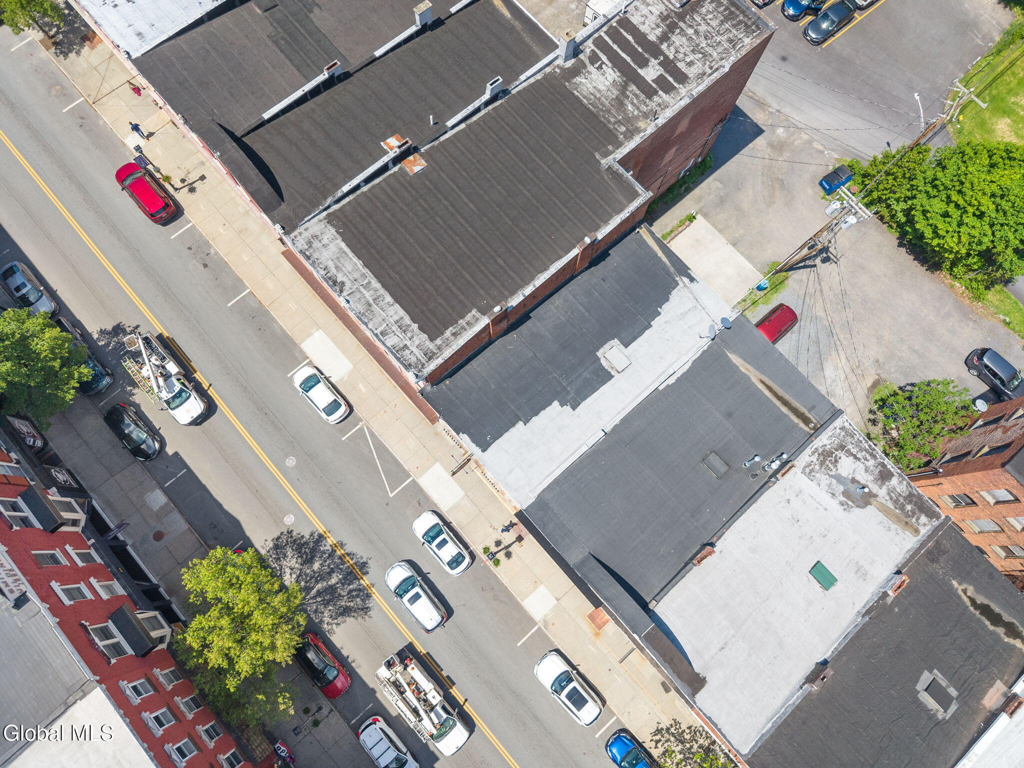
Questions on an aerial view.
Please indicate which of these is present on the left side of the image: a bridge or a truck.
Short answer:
truck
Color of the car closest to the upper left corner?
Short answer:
red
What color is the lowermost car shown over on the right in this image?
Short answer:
blue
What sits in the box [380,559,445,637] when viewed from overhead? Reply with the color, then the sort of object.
white car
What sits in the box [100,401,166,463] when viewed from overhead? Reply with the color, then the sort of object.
black car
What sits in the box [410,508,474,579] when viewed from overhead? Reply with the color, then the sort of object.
white car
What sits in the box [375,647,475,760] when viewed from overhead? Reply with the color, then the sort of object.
white truck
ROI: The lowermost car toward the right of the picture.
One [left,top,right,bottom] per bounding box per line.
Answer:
[602,723,662,768]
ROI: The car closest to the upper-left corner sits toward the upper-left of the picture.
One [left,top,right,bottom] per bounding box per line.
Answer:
[114,161,178,228]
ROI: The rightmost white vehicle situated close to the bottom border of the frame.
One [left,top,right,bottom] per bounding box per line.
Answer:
[531,646,607,732]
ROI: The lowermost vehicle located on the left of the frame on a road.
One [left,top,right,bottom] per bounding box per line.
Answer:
[358,715,429,768]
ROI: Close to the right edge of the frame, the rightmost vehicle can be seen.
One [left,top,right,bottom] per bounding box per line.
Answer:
[963,348,1024,408]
